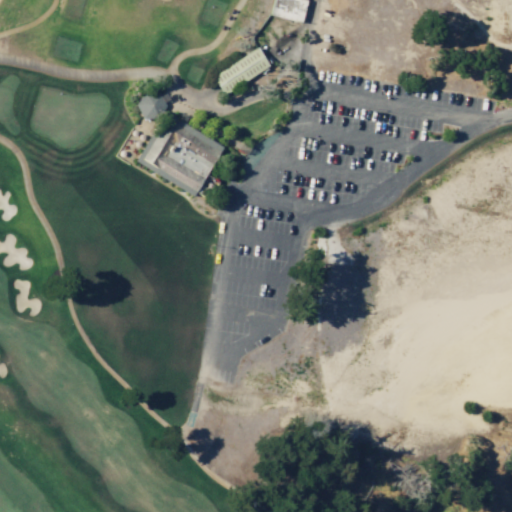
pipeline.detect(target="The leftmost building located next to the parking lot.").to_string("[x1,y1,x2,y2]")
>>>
[138,122,224,195]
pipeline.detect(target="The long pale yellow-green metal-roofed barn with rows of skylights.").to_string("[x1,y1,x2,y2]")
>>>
[220,48,270,93]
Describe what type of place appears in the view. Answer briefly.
golf course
